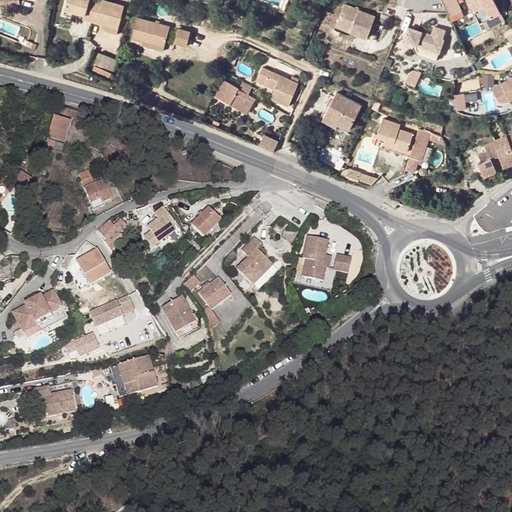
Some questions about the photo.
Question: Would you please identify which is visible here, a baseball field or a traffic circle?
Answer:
traffic circle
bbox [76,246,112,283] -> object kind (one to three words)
house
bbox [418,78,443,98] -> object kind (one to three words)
swimming pool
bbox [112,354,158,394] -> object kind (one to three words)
house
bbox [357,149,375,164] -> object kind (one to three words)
swimming pool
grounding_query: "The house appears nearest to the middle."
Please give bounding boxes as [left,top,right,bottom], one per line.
[238,236,279,288]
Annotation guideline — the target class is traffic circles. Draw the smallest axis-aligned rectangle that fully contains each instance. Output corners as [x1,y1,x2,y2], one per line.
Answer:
[385,228,468,310]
